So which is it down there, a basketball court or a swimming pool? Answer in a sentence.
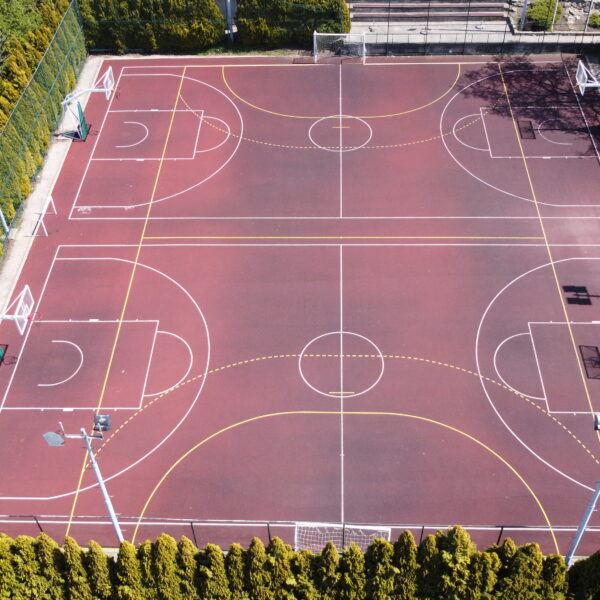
Visible in the photo is a basketball court.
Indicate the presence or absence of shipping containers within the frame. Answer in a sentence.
No, I find no shipping container anywhere in the image.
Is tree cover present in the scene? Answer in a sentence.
Yes, tree cover can be seen from above here.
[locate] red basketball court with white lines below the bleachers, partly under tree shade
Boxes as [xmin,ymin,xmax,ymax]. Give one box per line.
[38,53,600,231]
